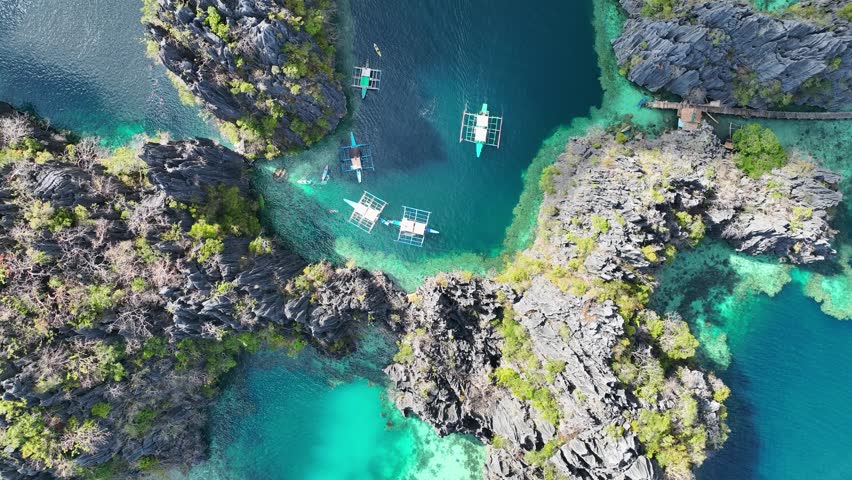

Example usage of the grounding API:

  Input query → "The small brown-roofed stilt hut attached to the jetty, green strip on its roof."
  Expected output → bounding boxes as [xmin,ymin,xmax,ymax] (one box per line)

[673,111,703,132]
